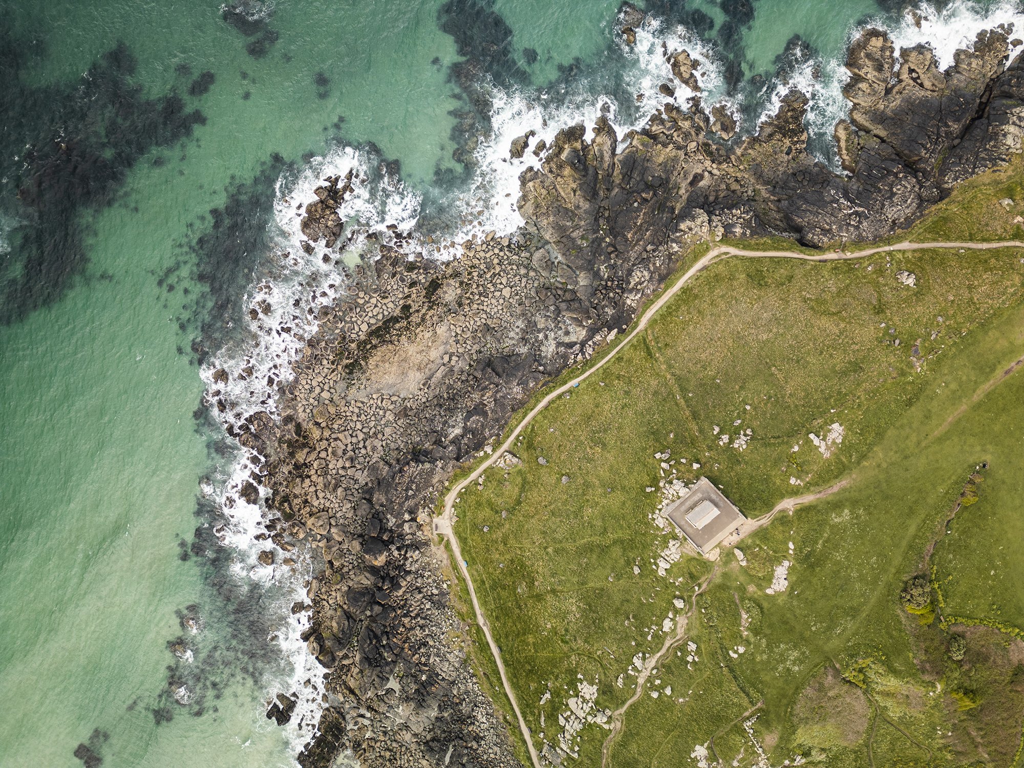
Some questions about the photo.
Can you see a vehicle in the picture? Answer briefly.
No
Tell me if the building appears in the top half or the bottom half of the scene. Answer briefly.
bottom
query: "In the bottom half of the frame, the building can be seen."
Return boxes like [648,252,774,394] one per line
[661,474,746,557]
